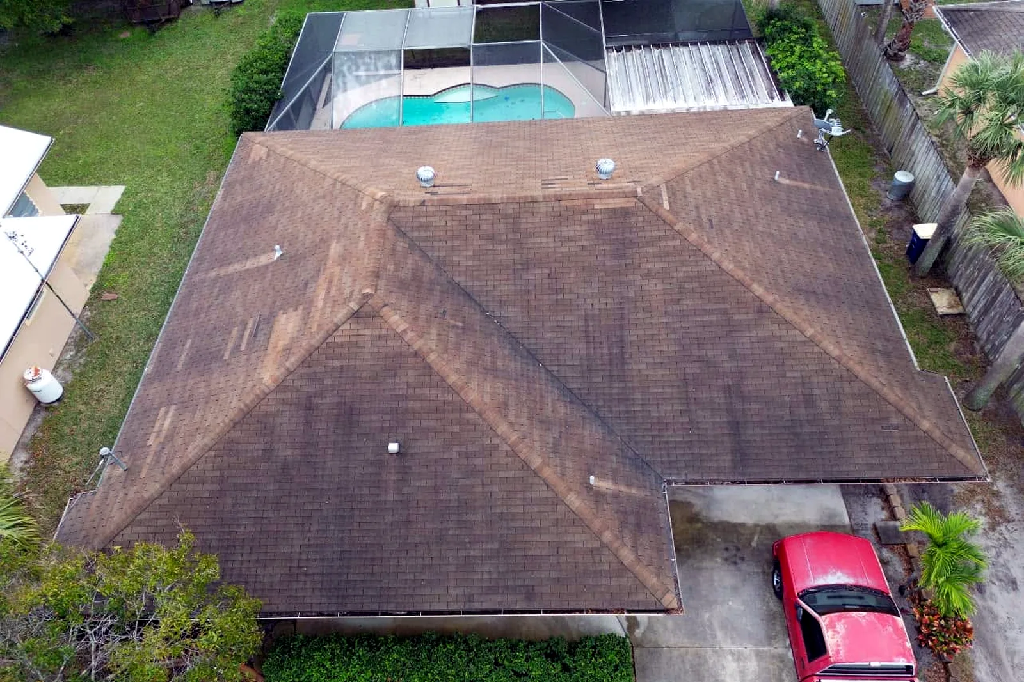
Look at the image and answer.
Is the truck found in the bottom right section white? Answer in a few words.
No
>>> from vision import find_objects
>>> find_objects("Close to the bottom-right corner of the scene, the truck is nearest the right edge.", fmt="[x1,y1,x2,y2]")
[767,534,915,682]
